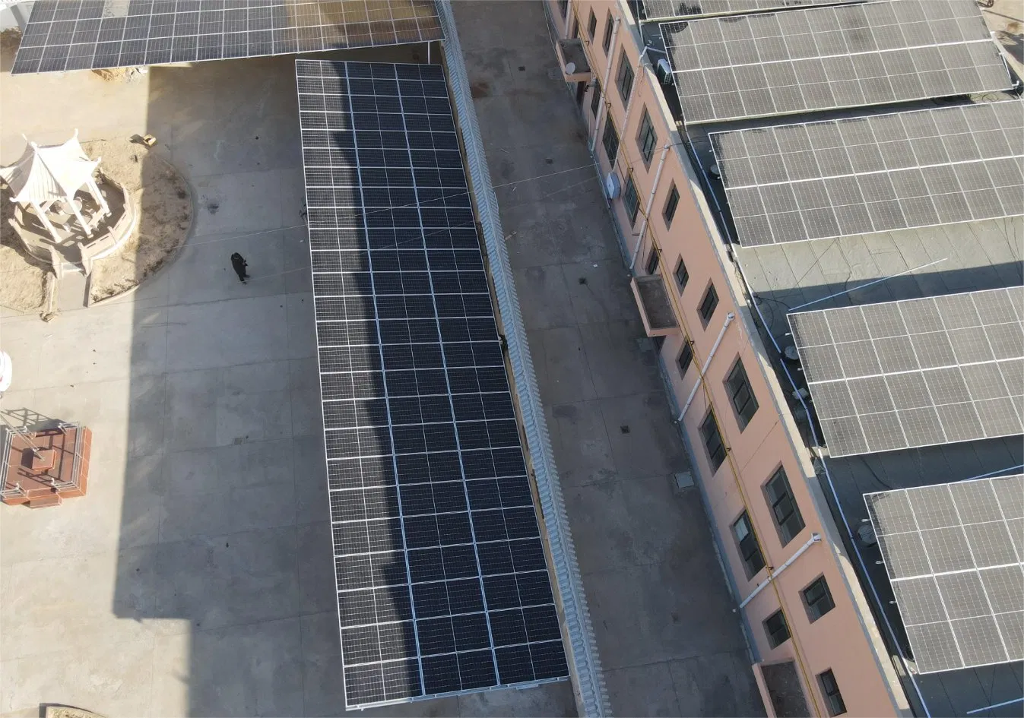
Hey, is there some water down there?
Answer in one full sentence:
No, no water is visible.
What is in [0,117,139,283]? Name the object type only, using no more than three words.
building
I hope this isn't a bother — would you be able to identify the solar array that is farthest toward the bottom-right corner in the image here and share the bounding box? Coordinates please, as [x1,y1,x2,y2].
[852,473,1024,674]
